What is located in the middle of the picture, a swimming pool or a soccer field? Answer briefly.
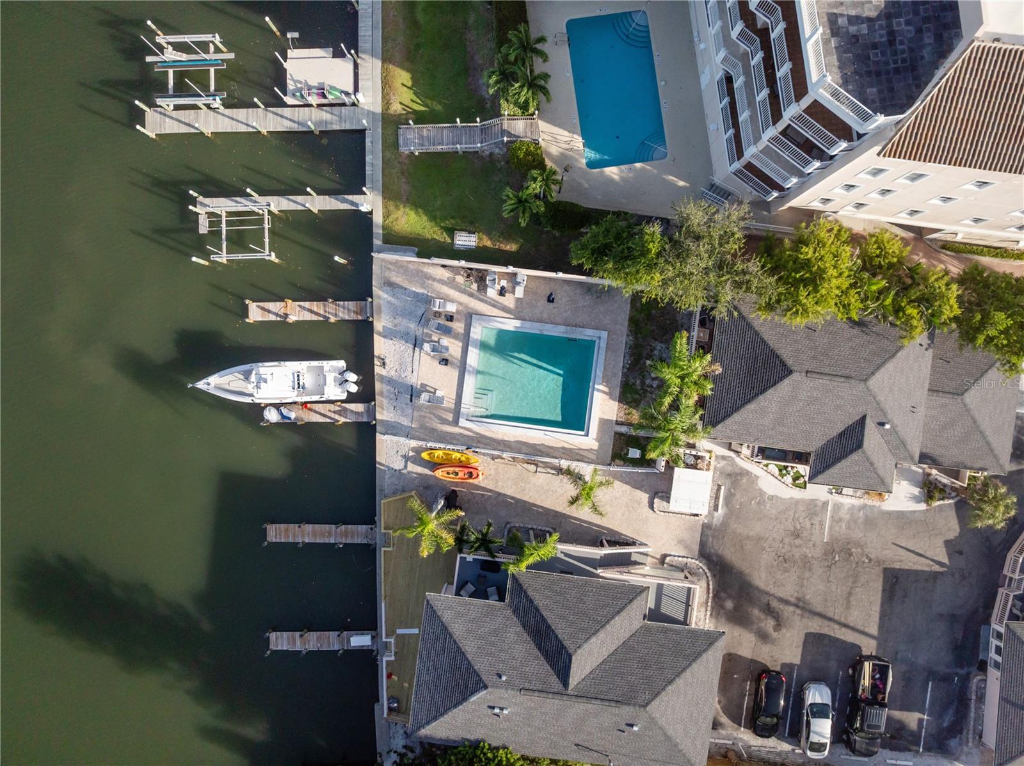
swimming pool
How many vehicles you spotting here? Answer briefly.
3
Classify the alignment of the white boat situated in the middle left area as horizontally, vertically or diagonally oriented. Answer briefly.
horizontally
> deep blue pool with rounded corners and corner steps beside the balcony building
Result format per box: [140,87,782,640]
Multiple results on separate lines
[553,0,677,172]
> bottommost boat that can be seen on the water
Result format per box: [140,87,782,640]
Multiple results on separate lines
[185,360,360,403]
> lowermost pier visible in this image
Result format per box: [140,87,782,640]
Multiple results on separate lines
[265,623,378,655]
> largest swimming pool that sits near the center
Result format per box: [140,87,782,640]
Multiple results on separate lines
[459,315,607,440]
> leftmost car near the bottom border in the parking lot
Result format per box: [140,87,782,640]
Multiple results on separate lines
[750,669,788,738]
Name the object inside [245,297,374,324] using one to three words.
pier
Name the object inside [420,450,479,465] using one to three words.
boat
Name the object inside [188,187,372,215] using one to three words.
pier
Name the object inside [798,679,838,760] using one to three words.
car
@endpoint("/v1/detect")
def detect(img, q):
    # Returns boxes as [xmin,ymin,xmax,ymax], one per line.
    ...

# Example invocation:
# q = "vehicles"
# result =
[798,679,838,760]
[843,647,892,758]
[750,669,788,738]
